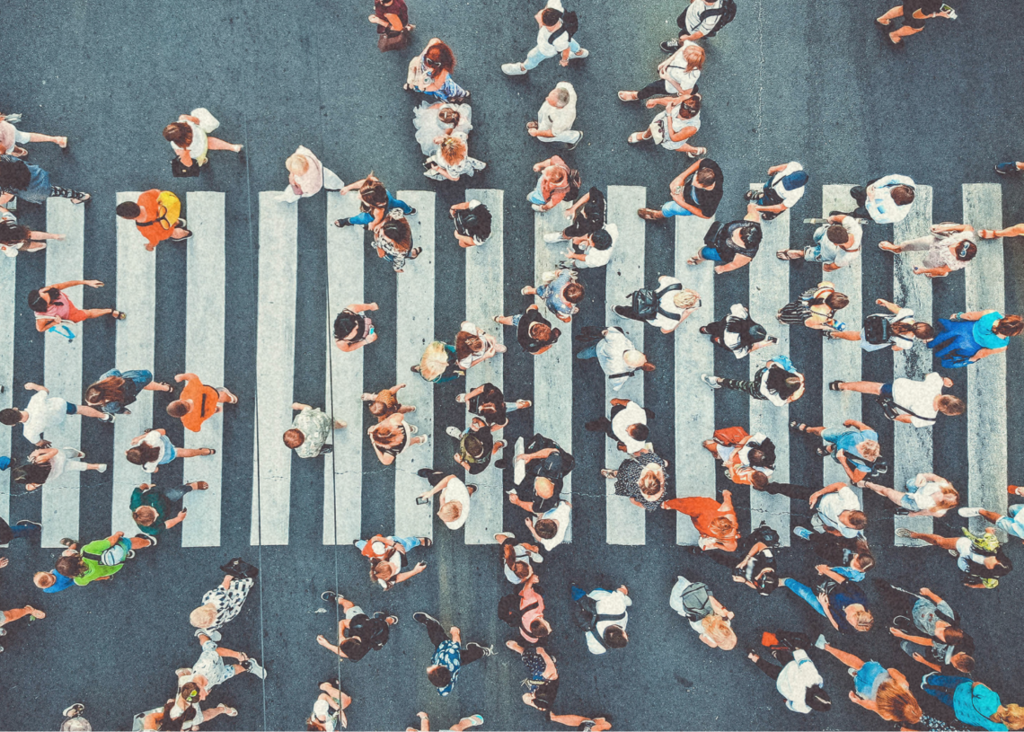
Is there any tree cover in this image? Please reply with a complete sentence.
No, there's no tree cover in this view.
